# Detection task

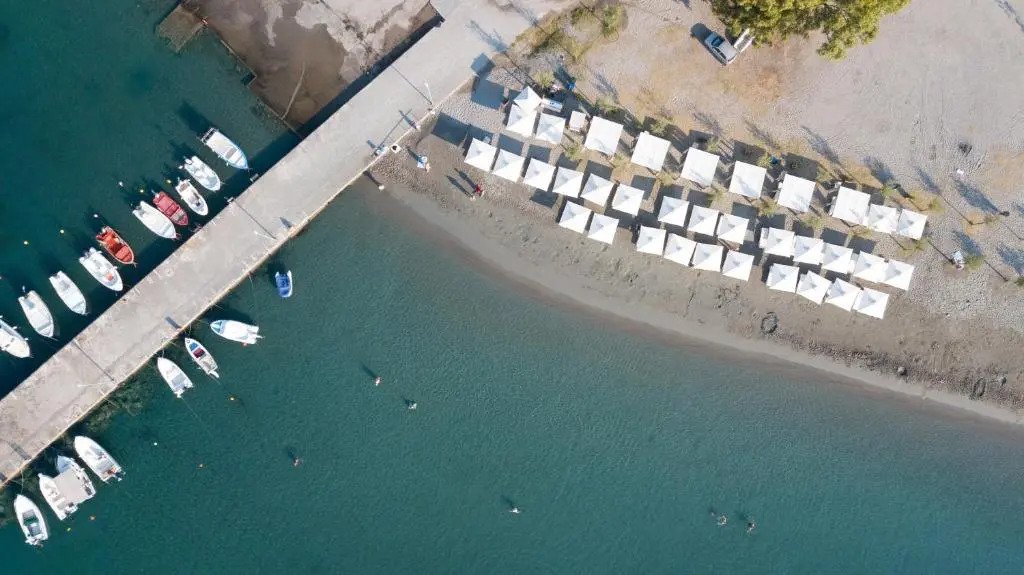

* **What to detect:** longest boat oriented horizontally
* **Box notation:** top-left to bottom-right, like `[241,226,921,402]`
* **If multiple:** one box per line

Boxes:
[209,319,263,345]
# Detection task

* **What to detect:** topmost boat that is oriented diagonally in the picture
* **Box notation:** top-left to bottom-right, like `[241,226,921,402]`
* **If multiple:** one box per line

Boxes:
[194,124,248,169]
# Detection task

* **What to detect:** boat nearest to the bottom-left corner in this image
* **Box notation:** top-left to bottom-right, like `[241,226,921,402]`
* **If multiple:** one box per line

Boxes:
[13,497,47,550]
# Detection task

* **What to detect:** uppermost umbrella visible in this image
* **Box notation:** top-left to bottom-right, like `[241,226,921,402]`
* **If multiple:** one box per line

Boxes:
[512,85,542,111]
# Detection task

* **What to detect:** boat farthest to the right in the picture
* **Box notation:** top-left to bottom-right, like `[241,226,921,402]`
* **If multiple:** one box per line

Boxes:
[275,270,293,297]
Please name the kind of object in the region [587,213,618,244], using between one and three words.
umbrella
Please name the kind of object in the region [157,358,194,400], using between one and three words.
boat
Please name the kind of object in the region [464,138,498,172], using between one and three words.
umbrella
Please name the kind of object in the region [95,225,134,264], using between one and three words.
boat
